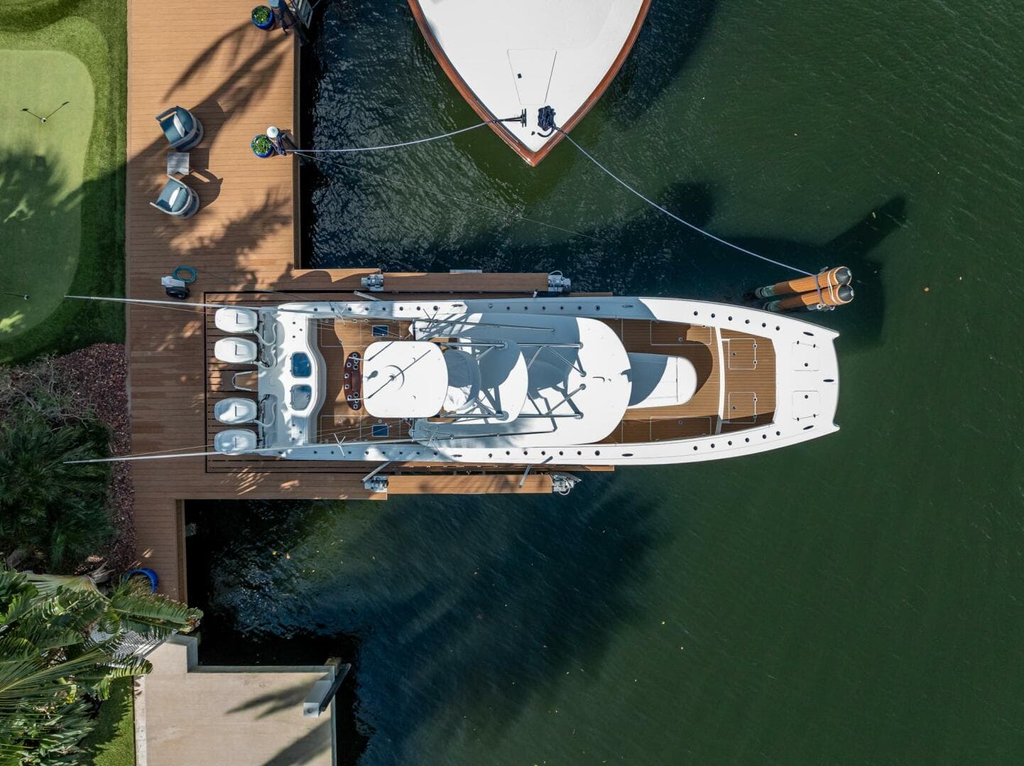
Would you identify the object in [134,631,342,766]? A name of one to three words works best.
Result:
pier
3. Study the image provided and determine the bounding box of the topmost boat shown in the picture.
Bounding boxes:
[409,0,651,167]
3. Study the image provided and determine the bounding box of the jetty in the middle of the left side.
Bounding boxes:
[127,0,391,642]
